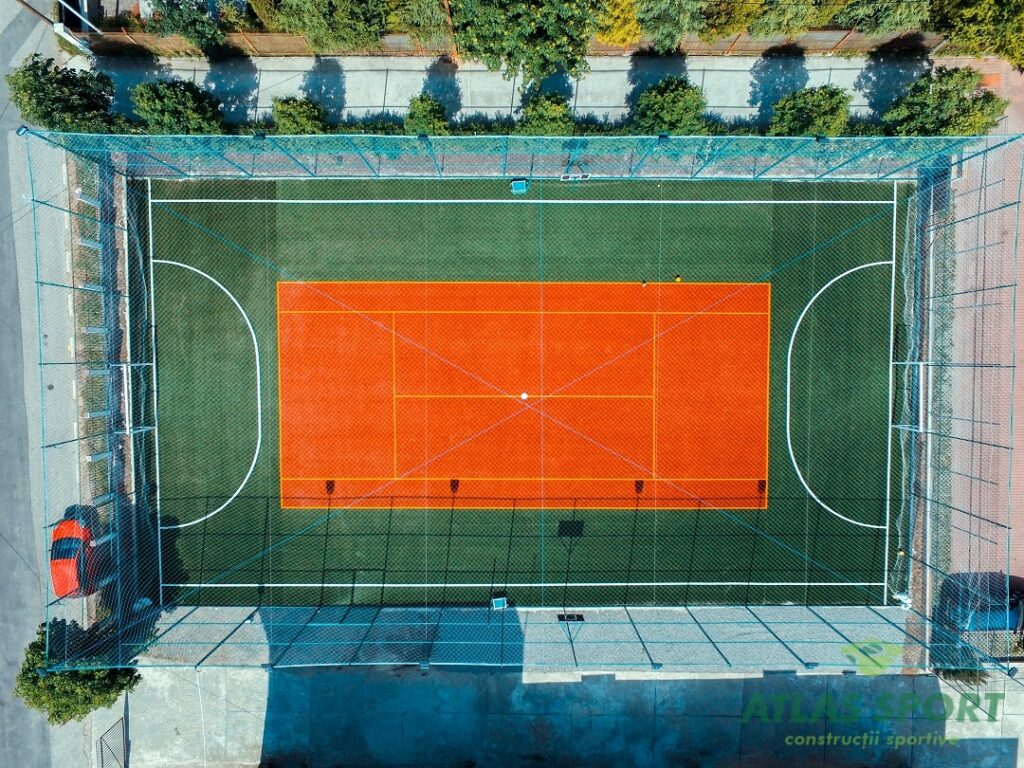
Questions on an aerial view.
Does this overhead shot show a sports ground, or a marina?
sports ground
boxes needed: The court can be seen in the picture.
[127,178,910,607]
